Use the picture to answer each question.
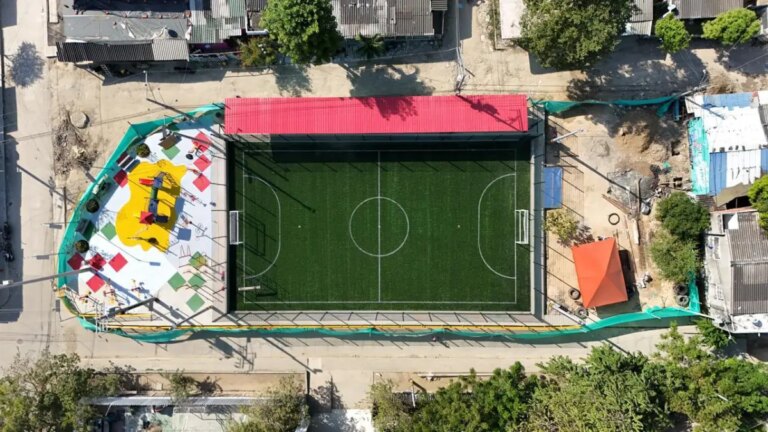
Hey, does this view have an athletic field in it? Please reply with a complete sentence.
Yes, the frame does contain an athletic field.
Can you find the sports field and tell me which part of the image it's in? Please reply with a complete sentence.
The sports field appears toward the center of the photo.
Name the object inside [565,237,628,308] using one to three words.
tent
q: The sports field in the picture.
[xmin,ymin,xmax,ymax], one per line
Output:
[230,140,530,311]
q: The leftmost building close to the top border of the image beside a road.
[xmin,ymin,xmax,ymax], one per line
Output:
[57,0,192,67]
